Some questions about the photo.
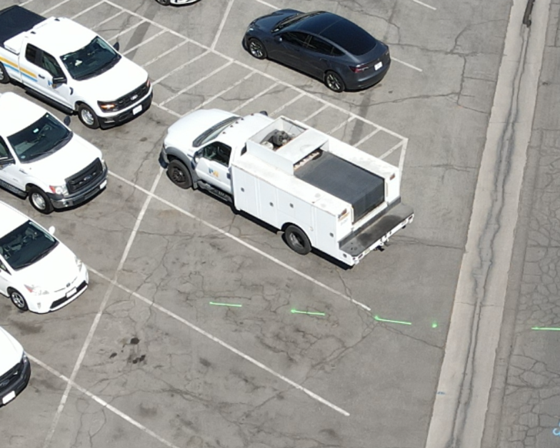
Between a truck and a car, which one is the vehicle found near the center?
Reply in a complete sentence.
In the photo, the vehicle found near the center shows up as a truck.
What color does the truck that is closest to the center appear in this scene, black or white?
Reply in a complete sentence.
The color of the truck that is closest to the center is white.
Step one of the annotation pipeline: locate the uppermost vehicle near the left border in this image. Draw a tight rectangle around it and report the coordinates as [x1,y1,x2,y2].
[0,4,156,128]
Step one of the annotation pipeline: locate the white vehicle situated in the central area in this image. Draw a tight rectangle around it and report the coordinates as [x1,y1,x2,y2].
[155,107,416,271]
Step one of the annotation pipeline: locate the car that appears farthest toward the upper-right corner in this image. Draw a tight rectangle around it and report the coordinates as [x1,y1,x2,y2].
[248,5,395,92]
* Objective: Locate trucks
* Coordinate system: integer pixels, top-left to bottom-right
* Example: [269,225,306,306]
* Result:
[155,107,416,271]
[0,4,156,128]
[0,94,112,214]
[0,334,31,404]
